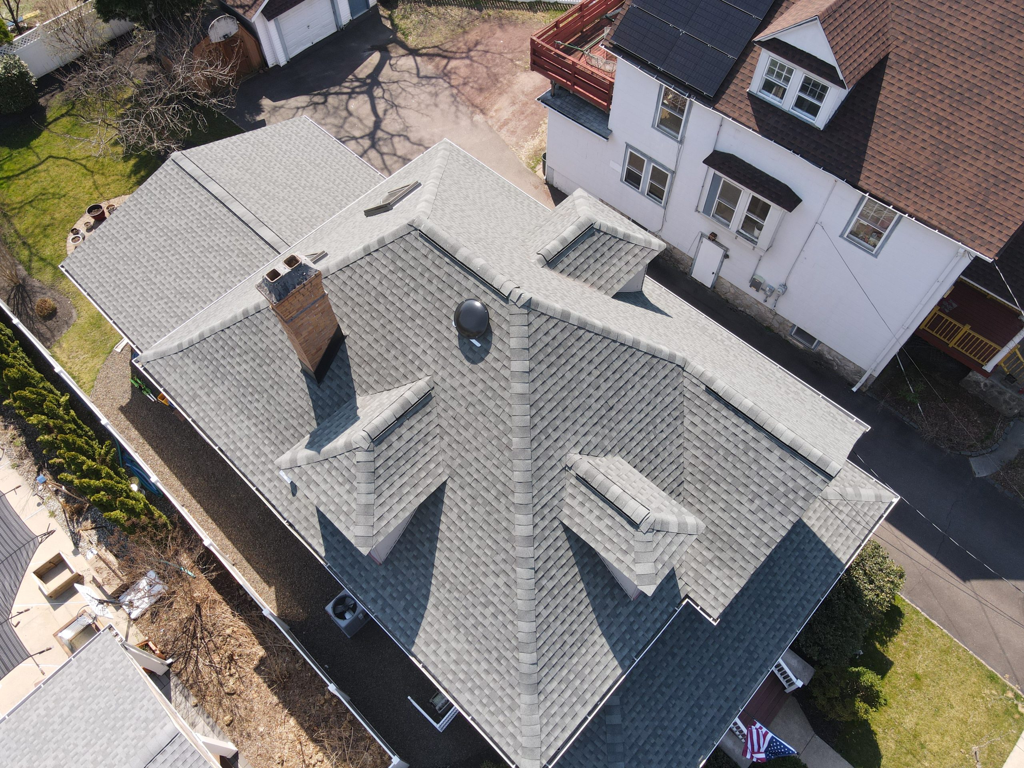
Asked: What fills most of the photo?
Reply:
buildings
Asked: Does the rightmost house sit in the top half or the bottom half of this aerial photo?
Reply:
top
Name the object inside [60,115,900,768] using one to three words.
house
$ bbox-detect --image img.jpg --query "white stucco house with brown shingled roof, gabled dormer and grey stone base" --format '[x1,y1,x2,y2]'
[528,0,1024,407]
